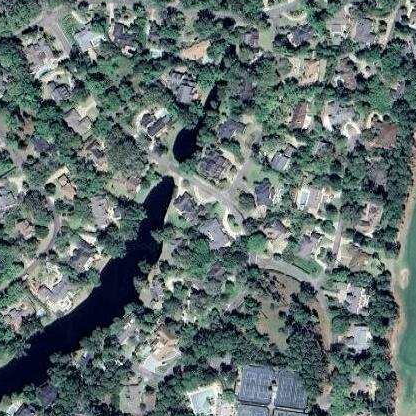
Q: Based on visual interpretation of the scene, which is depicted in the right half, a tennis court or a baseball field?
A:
tennis court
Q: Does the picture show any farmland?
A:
No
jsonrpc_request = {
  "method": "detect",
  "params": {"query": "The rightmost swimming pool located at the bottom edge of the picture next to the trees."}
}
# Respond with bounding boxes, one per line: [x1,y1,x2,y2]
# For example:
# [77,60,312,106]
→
[187,384,222,416]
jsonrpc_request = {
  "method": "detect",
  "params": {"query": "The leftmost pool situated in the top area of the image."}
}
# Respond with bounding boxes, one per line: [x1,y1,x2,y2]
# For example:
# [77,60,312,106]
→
[33,65,52,78]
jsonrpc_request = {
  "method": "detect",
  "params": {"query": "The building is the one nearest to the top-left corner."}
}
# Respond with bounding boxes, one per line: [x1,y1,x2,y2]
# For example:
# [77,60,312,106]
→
[26,35,57,69]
